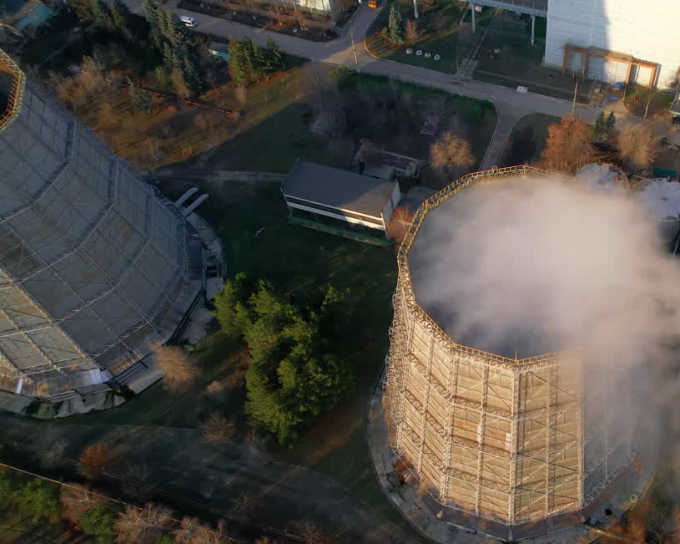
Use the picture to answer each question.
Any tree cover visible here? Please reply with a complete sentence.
Yes, tree cover can be seen from above here.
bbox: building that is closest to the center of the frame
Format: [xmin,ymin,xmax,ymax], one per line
[280,160,404,257]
